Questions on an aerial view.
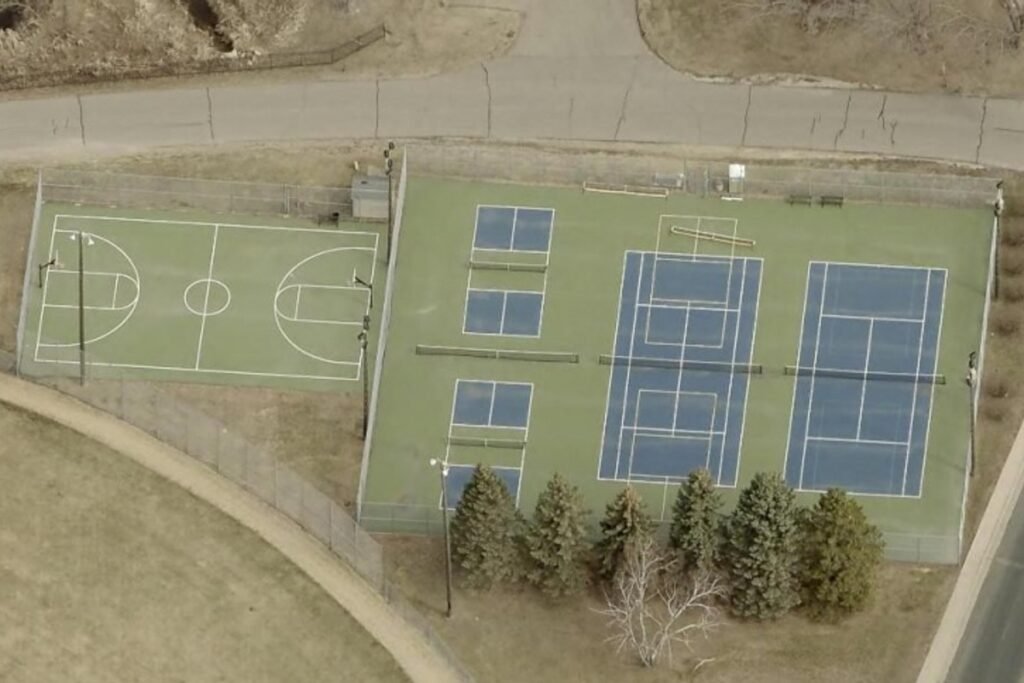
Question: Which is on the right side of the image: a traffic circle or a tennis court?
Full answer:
You can see a tennis court on the right side of the image.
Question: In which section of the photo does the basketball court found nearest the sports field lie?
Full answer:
The basketball court found nearest the sports field is in the left part of the image.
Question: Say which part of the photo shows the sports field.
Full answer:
You can find the sports field in the bottom left area of the picture.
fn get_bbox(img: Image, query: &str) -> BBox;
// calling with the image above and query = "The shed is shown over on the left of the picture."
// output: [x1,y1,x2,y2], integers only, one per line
[350,177,392,219]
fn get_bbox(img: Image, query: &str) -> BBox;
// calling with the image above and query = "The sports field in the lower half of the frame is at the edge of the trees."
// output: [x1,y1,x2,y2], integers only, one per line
[0,370,463,683]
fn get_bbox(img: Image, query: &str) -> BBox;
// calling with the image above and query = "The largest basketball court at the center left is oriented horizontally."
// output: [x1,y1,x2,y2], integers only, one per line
[21,203,396,391]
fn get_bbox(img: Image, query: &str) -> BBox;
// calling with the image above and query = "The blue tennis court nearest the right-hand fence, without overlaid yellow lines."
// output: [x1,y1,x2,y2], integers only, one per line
[782,261,947,498]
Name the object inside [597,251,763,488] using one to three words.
tennis court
